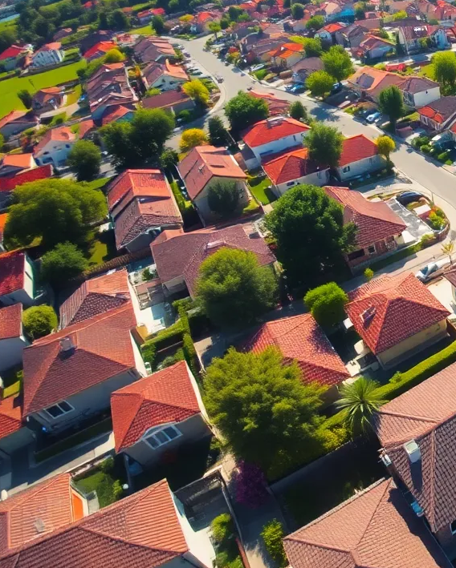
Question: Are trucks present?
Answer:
No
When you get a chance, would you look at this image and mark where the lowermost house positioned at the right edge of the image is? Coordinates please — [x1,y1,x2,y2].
[280,473,452,568]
